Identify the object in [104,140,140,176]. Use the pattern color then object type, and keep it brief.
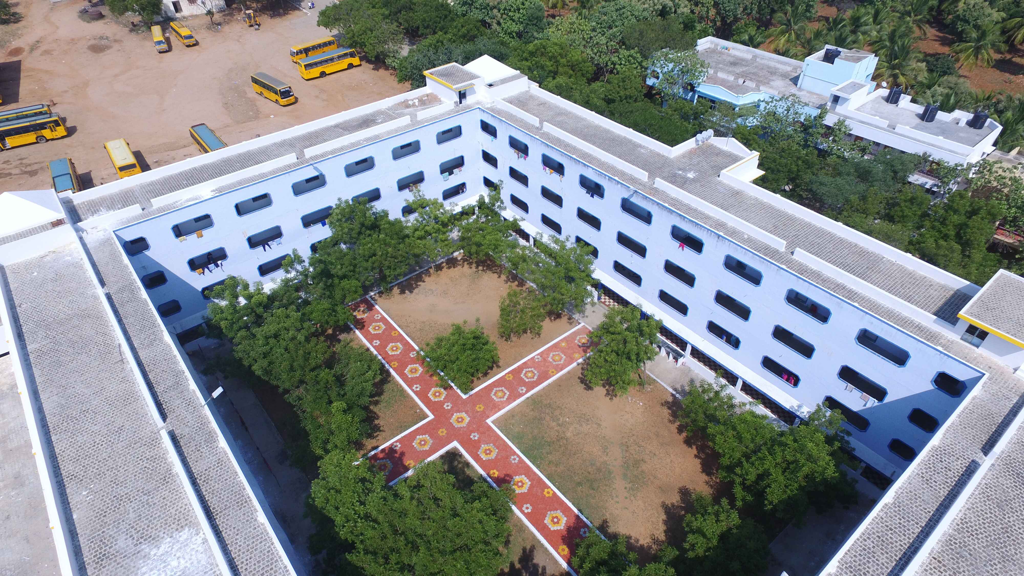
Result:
white bus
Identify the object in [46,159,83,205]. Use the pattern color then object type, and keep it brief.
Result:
blue bus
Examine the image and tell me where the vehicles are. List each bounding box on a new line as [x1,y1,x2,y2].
[170,22,194,46]
[150,26,167,51]
[286,33,336,62]
[188,124,225,152]
[238,7,259,28]
[104,140,140,176]
[46,159,83,205]
[292,45,356,76]
[247,74,295,107]
[0,107,66,151]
